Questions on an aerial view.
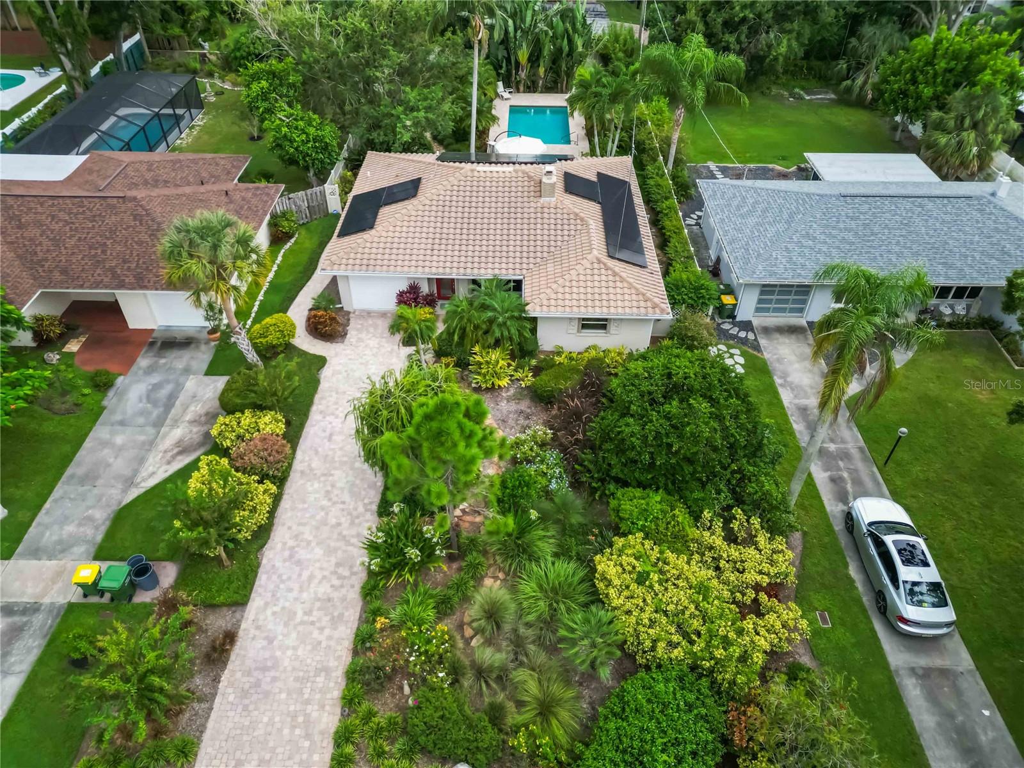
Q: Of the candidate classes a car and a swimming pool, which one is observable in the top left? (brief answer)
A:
swimming pool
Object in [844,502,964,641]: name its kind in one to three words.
car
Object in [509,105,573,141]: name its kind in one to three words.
swimming pool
